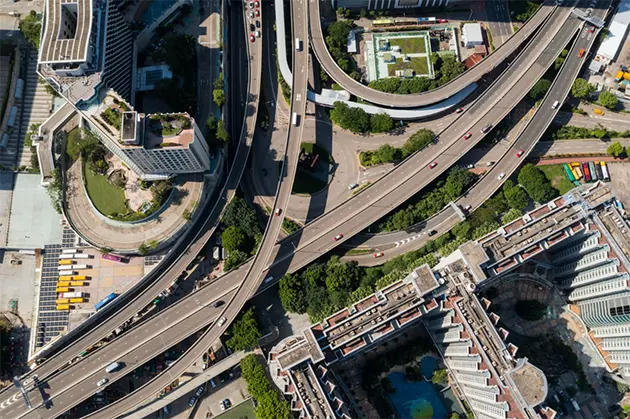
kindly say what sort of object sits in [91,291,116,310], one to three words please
vehicle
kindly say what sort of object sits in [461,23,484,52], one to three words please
building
